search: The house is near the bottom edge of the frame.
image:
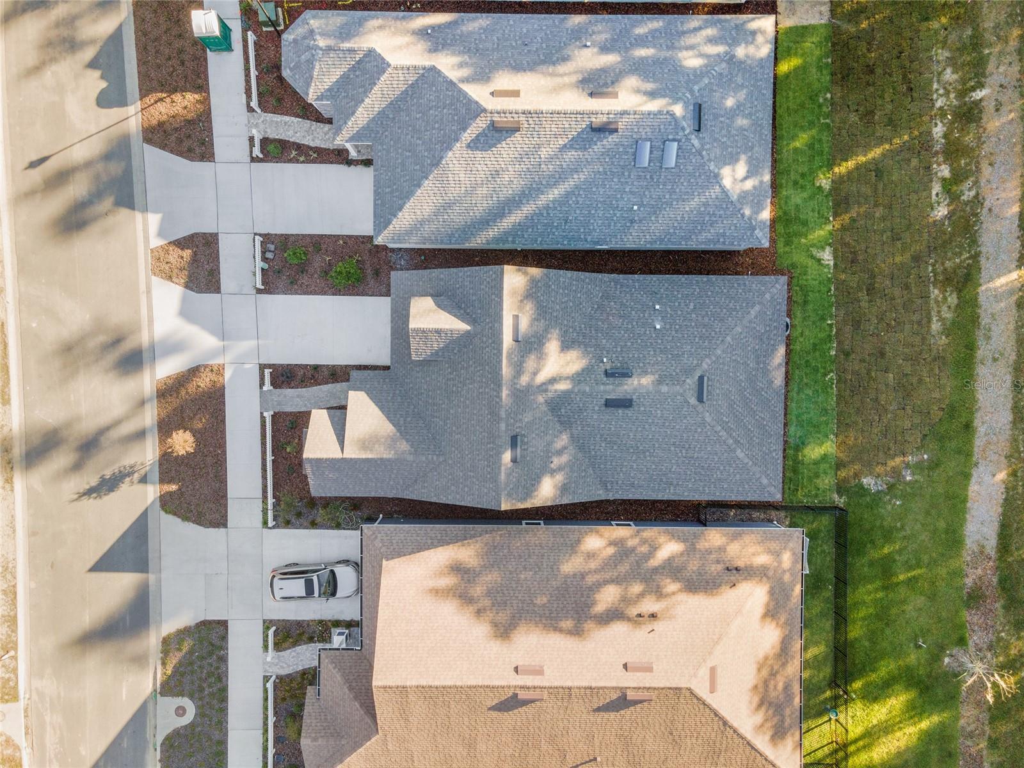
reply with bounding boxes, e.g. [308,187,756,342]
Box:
[300,514,808,768]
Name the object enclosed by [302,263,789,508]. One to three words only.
house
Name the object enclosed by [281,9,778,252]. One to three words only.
house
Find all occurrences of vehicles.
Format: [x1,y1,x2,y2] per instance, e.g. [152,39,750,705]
[268,563,358,606]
